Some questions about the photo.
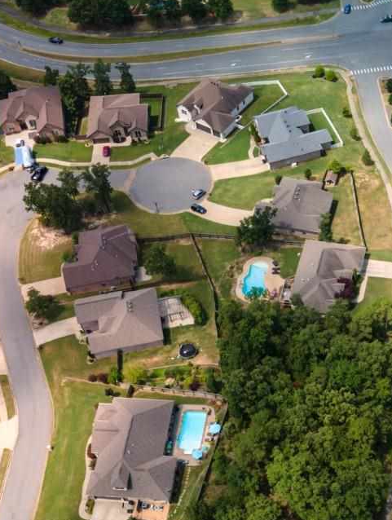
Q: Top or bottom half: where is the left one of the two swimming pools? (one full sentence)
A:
The bottom half of the photo is where the left one of the two swimming pools is.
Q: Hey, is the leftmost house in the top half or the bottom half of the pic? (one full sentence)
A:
It is in the top half that the leftmost house appears.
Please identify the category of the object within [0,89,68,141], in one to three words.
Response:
house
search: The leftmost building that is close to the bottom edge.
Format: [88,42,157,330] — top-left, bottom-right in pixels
[85,399,178,507]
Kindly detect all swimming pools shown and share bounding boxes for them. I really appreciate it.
[235,256,285,303]
[174,405,215,465]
